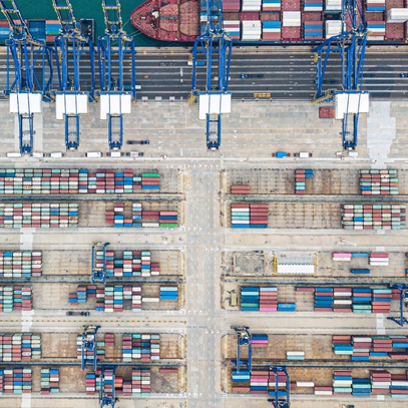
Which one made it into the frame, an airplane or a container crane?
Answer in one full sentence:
The image shows a container crane.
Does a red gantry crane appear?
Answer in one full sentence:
No, I can see no red gantry crane in this picture.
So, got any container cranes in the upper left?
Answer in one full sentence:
Yes, looking in the upper left, one can make out a container crane.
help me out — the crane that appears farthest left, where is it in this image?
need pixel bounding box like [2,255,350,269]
[0,0,56,157]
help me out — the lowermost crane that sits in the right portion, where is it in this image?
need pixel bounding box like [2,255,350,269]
[265,359,290,408]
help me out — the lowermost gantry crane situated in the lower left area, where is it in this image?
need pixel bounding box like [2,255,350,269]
[98,357,118,406]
